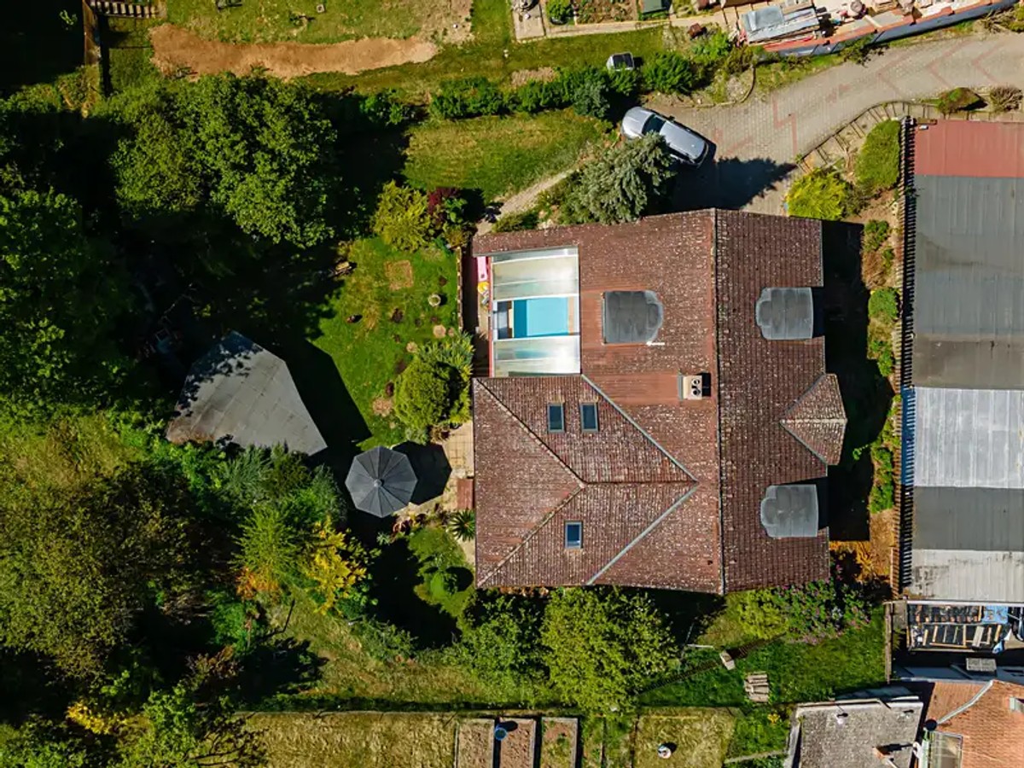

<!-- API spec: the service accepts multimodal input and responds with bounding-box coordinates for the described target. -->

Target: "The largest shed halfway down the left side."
[166,331,327,455]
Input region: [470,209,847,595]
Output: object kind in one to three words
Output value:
house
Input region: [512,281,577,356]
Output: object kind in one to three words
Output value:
swimming pool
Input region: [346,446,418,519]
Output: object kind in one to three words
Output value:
umbrella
